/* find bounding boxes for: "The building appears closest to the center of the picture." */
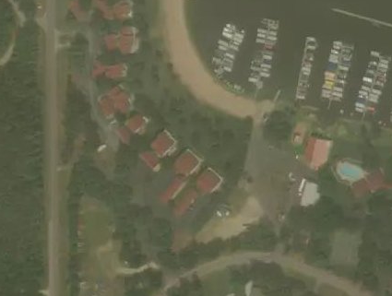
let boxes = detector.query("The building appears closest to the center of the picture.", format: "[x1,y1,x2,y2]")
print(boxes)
[174,149,201,176]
